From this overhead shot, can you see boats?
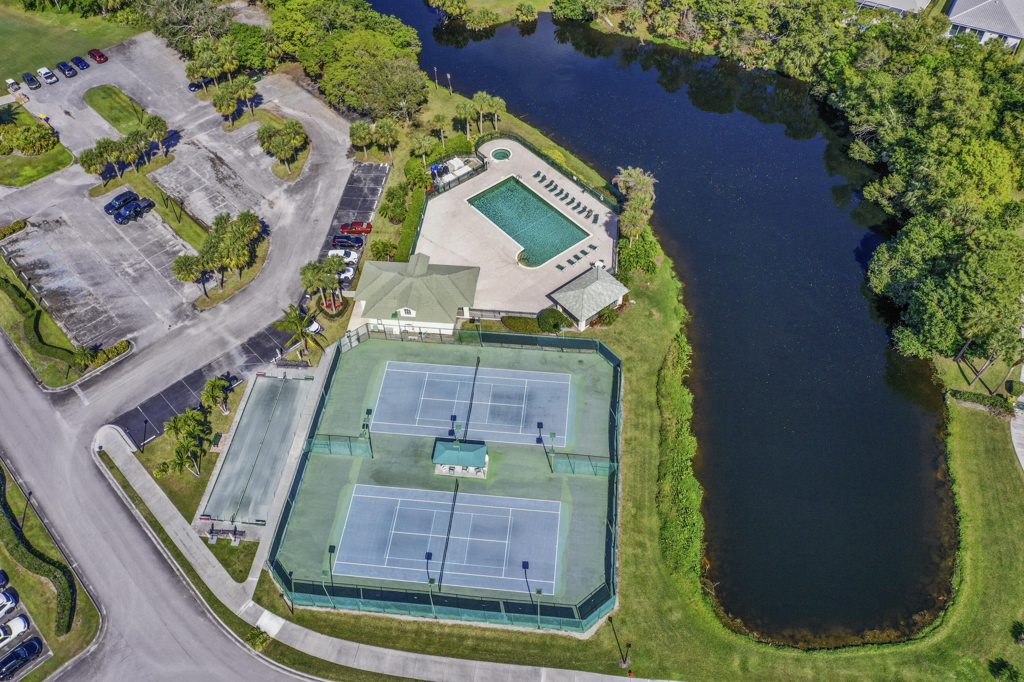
No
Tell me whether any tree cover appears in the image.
Yes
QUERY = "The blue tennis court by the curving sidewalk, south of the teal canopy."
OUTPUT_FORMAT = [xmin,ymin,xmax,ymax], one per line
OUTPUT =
[274,453,618,632]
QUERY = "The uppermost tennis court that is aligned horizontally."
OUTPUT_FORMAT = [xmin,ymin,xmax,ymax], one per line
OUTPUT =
[315,338,621,478]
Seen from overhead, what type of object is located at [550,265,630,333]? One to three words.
building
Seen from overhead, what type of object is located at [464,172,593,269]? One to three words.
swimming pool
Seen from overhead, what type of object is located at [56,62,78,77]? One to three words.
car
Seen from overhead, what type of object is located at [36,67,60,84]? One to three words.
vehicle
